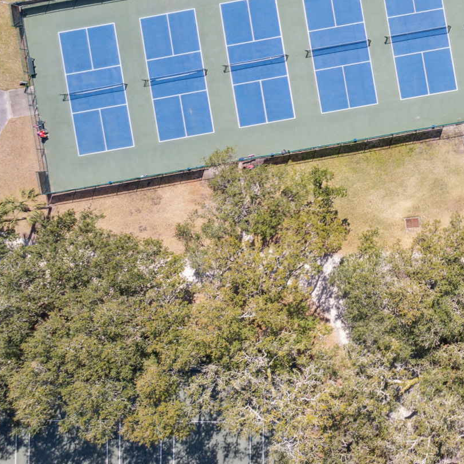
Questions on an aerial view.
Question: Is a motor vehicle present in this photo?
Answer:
No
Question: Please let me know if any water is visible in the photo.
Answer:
No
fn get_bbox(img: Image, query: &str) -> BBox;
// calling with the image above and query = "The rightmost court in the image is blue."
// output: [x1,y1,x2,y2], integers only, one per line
[384,0,456,99]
